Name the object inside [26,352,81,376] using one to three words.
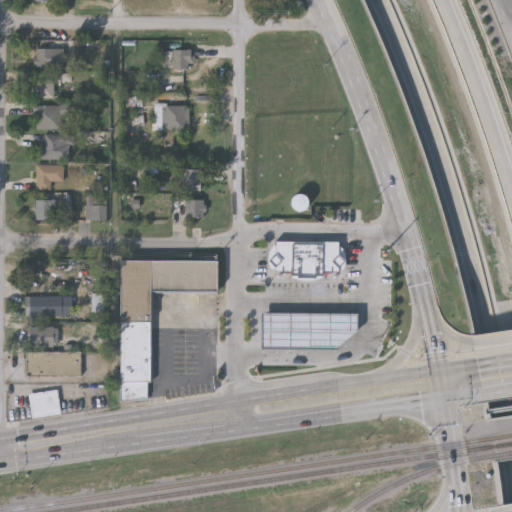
building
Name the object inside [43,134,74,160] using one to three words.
house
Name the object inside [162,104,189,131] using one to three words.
house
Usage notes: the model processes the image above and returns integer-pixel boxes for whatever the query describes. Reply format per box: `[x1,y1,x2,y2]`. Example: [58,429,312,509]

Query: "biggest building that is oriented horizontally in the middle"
[268,242,348,281]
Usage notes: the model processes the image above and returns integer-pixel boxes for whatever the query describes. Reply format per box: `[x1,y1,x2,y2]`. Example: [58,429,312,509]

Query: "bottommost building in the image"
[28,390,62,418]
